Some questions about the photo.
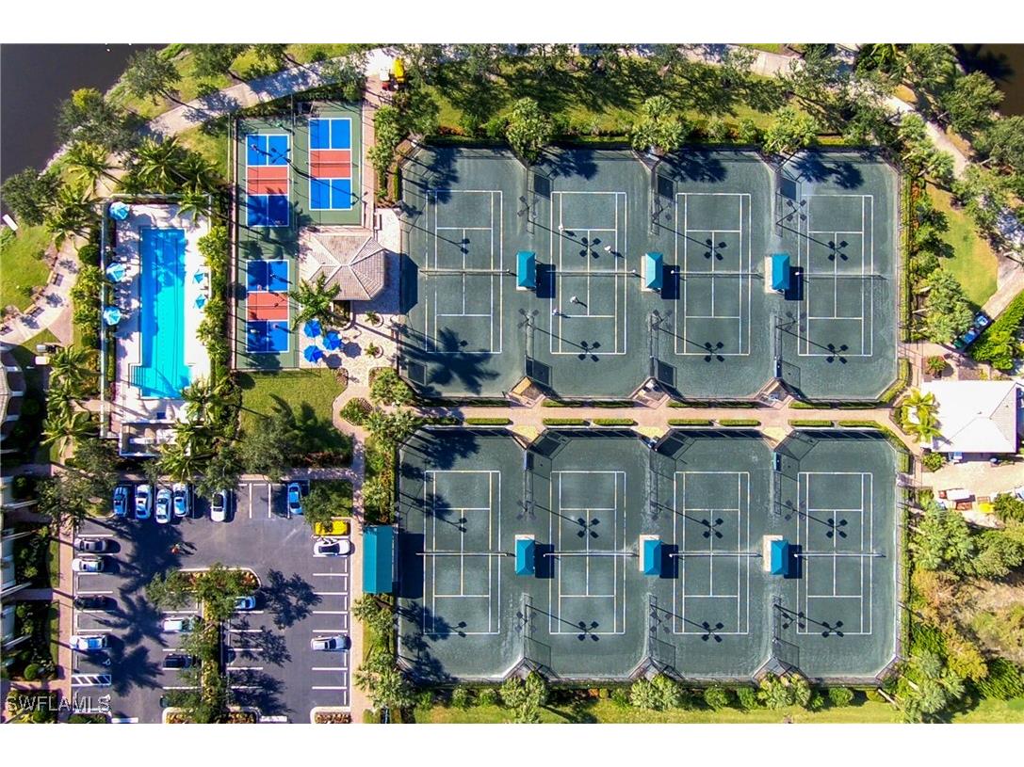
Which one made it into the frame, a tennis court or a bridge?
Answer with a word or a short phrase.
tennis court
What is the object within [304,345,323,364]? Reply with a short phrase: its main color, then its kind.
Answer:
blue umbrella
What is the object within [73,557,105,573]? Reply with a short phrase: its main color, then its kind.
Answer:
white car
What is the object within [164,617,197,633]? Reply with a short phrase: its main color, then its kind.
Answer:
white car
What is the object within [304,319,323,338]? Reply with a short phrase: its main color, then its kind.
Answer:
blue umbrella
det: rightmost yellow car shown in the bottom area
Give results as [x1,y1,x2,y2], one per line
[316,520,347,535]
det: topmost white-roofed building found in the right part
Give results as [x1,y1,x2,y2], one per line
[914,380,1018,453]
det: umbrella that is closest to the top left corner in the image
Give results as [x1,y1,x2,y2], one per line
[110,201,130,220]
